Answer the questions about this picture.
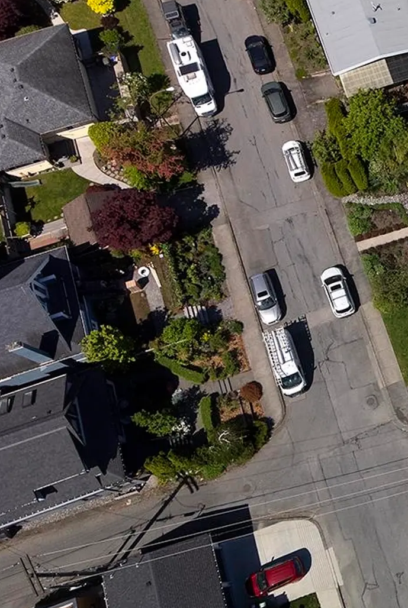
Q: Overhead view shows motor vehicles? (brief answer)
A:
Yes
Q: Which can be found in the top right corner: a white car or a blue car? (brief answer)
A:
white car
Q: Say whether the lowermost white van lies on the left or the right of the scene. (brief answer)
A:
right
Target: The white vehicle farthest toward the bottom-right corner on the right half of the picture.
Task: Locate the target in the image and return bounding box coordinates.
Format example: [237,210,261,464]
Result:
[252,322,311,405]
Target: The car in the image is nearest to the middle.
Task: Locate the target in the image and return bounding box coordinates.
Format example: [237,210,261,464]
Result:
[249,272,285,326]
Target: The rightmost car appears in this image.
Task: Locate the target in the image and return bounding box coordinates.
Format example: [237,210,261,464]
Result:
[320,264,359,322]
